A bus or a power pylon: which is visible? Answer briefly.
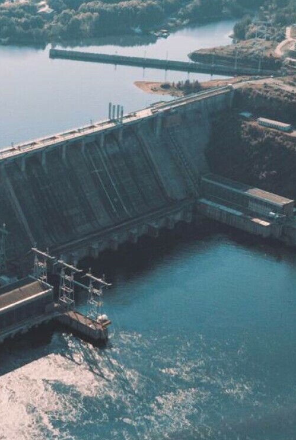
power pylon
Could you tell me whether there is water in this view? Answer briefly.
Yes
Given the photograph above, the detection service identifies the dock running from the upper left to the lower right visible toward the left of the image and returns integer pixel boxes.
[49,291,117,339]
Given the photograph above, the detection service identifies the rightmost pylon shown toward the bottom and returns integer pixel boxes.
[86,266,111,322]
